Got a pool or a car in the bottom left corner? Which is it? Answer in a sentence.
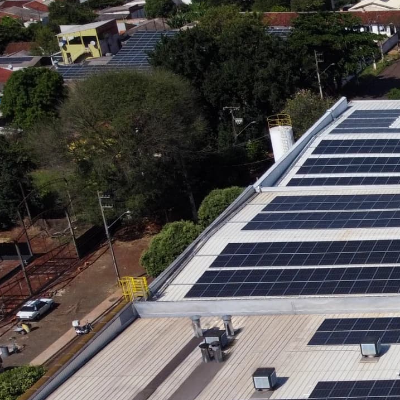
It is a car that can be seen in the bottom left corner.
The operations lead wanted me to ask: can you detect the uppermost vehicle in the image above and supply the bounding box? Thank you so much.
[14,294,56,319]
